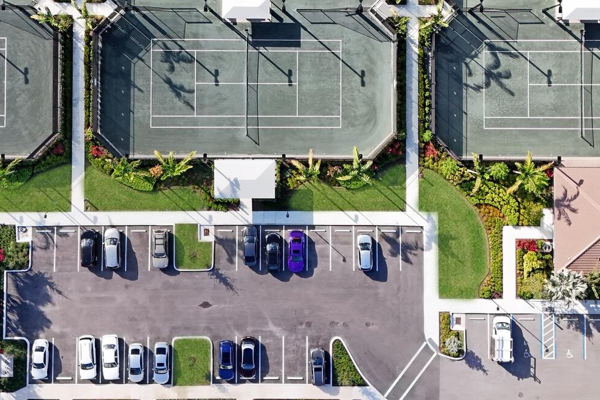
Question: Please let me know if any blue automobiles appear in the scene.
Yes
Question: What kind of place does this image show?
sports ground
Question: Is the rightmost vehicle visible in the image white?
Yes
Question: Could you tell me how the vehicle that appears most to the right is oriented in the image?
vertically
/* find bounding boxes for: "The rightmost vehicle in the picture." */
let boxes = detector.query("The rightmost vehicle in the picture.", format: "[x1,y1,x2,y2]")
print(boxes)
[495,315,515,366]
